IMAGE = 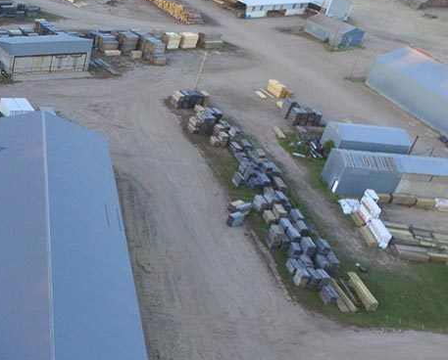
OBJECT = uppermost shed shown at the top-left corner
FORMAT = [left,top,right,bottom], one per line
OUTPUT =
[0,32,93,75]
